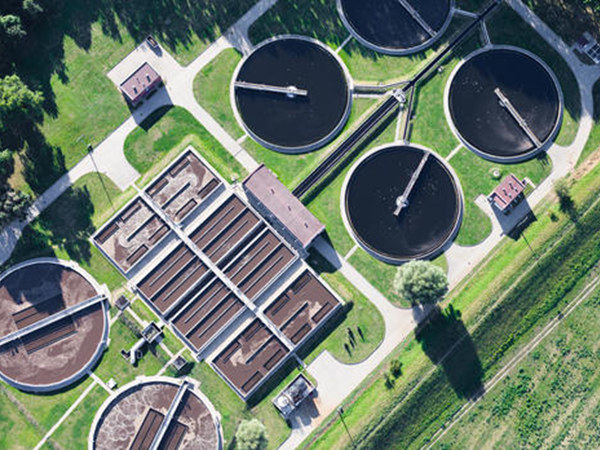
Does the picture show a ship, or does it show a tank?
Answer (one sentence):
Of the two, only a tank appears.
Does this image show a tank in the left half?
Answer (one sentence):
Yes, a tank shows up in the left half.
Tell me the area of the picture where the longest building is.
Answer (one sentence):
The longest building sits in the center section of the image.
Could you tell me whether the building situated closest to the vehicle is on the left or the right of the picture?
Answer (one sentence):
The building situated closest to the vehicle is on the left side of the image.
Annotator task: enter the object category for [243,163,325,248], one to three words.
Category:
building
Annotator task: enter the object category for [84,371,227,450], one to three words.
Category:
storage tank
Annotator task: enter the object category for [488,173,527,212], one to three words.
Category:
building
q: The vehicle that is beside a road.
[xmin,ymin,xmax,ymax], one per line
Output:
[145,35,163,54]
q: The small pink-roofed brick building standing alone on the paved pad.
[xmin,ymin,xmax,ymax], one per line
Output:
[118,62,161,103]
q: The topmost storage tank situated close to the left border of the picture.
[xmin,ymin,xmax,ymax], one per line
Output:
[0,257,120,398]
